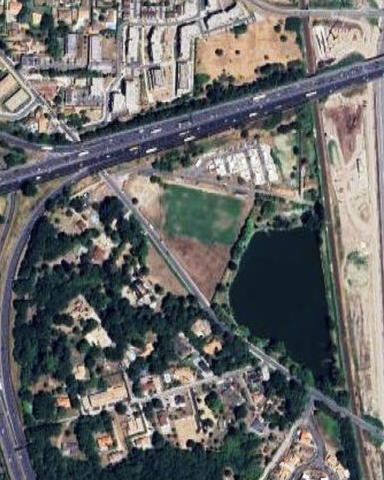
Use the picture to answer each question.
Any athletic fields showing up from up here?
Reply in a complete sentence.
Yes, I can see an athletic field in this picture.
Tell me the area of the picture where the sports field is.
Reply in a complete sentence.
The sports field appears toward the center of the photo.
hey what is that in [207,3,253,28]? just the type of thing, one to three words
building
